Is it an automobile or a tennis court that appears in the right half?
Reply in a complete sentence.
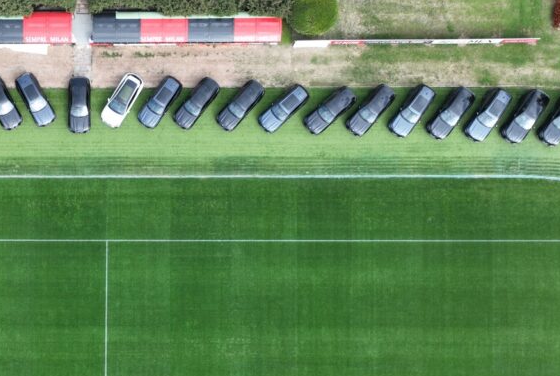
Looking in the right half, you will find an automobile.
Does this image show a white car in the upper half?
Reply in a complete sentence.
Yes, the scene does show a white car in the upper half.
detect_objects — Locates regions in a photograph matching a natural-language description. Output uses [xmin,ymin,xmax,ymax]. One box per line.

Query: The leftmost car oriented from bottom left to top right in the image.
[101,73,144,130]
